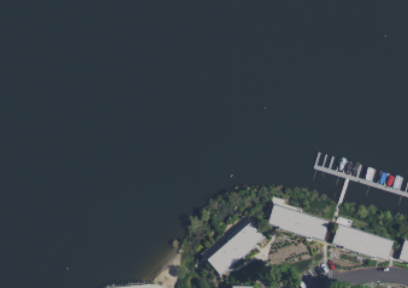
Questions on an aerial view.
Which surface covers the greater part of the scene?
water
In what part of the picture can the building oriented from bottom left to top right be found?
bottom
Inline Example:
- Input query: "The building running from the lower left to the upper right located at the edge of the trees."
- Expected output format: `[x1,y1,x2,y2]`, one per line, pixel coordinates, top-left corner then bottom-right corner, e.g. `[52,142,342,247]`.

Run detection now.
[208,222,263,276]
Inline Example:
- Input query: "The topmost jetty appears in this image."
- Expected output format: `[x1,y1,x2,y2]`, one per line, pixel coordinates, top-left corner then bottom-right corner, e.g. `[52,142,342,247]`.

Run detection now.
[314,152,408,196]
